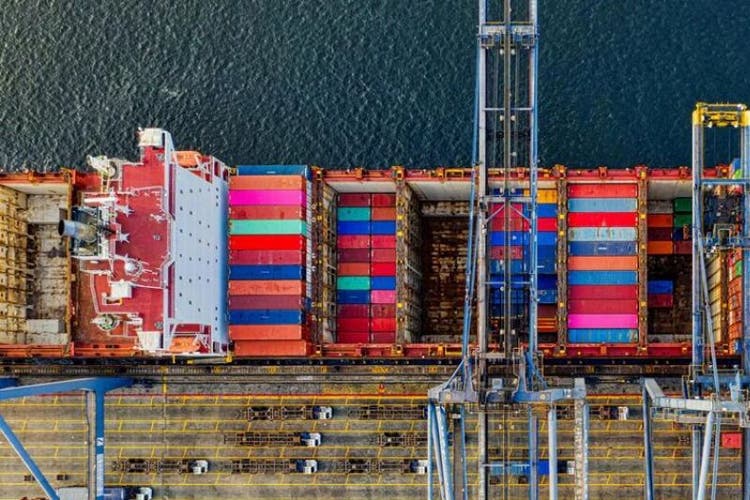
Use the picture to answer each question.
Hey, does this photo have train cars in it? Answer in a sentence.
No, I can't see a single train car in this photo.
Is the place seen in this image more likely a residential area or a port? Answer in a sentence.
What you see here is a port.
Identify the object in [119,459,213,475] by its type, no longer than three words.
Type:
vehicle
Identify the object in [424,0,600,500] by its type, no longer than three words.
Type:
container crane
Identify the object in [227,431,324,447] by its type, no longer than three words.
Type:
vehicle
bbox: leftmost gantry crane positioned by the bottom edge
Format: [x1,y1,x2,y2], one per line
[0,377,149,500]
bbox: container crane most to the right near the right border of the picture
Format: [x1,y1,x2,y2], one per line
[600,102,750,500]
